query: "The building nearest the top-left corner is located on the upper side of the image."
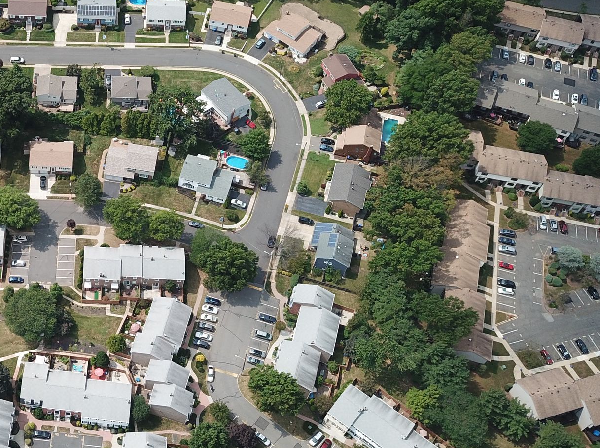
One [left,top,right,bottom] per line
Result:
[7,0,47,32]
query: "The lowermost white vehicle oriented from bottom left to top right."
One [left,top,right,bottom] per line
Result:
[308,428,324,448]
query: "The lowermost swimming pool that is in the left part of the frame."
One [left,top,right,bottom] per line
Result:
[225,156,249,171]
